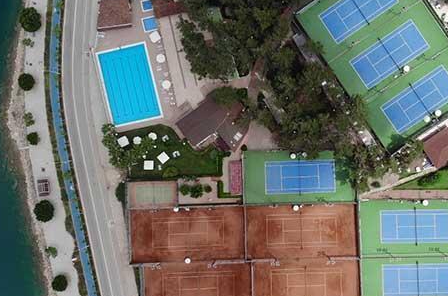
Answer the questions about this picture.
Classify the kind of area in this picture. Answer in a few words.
sports ground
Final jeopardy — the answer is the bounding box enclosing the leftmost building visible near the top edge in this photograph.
[97,0,135,29]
